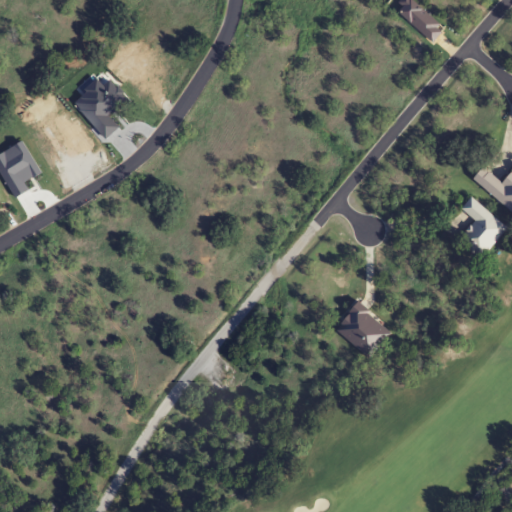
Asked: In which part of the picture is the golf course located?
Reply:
bottom right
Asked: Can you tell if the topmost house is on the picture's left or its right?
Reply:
right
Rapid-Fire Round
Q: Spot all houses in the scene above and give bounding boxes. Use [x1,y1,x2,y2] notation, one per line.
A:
[463,197,499,250]
[336,302,391,354]
[74,74,130,138]
[475,168,512,211]
[395,0,442,44]
[0,142,42,197]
